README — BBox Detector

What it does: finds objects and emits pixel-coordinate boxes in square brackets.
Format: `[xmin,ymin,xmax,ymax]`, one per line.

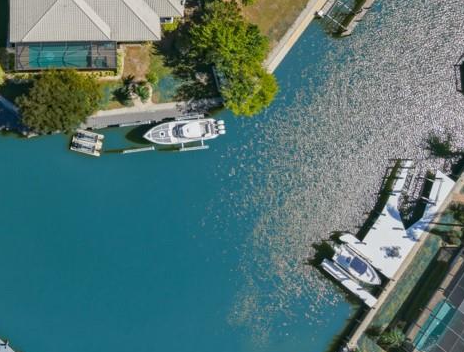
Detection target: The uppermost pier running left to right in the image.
[81,101,225,131]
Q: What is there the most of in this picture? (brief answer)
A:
water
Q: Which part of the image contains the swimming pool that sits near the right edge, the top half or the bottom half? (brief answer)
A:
bottom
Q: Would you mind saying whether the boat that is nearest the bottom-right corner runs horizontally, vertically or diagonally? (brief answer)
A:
diagonally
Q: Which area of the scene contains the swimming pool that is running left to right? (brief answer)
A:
top left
